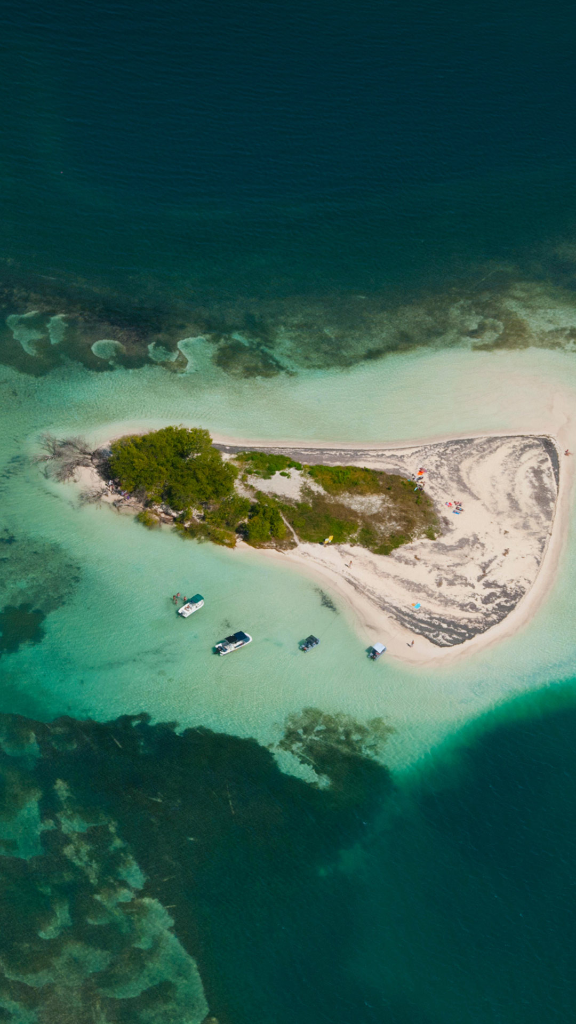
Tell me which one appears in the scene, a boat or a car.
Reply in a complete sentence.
Of the two, only a boat appears.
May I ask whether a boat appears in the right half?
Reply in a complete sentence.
Yes, a boat can be seen in the right half.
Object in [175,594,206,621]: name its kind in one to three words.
boat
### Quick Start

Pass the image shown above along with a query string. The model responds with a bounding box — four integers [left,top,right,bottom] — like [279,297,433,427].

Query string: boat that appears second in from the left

[215,632,252,656]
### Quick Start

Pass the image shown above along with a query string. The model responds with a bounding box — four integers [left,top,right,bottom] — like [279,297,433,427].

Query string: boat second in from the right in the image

[300,635,320,653]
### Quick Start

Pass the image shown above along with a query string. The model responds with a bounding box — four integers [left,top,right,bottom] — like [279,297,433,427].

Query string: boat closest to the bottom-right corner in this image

[367,641,387,661]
